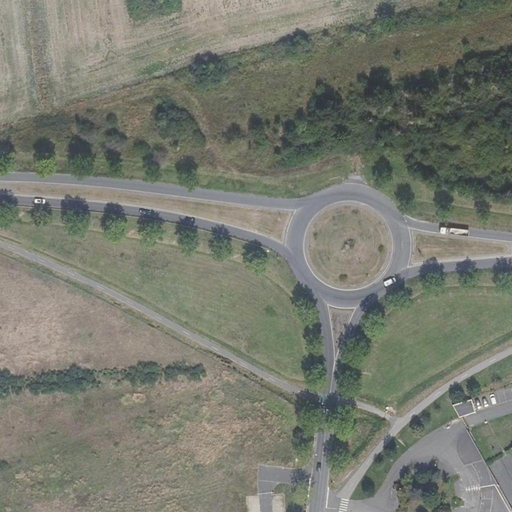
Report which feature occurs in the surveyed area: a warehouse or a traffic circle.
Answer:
traffic circle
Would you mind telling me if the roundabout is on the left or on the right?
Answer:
right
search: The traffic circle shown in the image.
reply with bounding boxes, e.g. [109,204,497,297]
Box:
[286,184,410,307]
